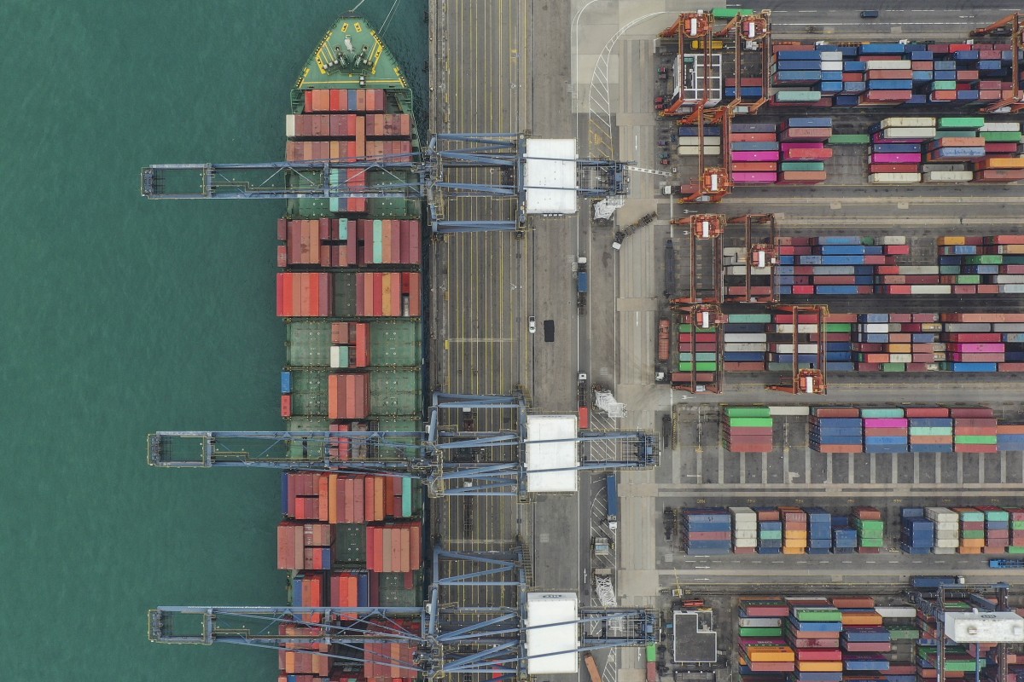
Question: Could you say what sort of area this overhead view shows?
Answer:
port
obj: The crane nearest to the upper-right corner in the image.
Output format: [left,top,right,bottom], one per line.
[969,8,1024,113]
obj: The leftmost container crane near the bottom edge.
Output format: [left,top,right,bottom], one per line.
[146,533,660,679]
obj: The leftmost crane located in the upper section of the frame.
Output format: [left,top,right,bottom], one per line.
[139,131,629,252]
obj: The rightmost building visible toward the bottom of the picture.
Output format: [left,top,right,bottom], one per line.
[671,608,717,665]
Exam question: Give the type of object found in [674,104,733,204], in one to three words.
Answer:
container crane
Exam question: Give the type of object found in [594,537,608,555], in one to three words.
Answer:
vehicle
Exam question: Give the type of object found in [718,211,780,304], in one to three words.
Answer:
container crane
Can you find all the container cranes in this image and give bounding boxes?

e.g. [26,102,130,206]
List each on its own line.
[146,533,660,679]
[674,104,733,204]
[146,385,660,498]
[718,211,780,304]
[139,131,629,252]
[969,8,1024,113]
[655,6,713,115]
[762,303,827,398]
[710,8,772,113]
[907,584,1024,682]
[666,302,724,392]
[666,211,724,304]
